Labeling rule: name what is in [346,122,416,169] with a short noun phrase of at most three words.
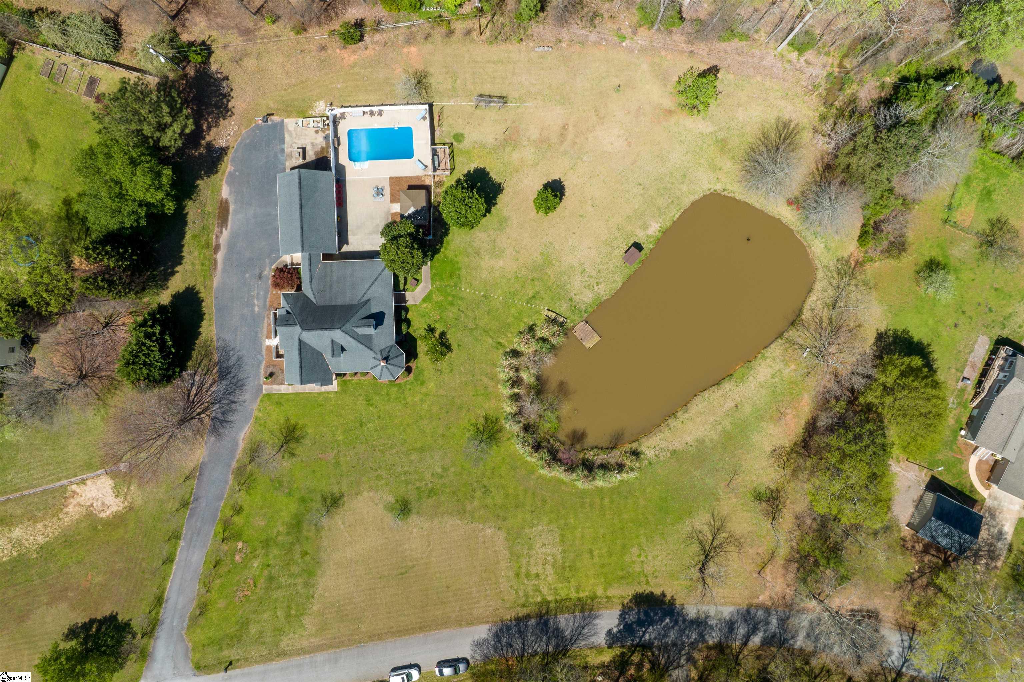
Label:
swimming pool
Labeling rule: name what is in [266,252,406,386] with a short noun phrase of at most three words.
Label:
house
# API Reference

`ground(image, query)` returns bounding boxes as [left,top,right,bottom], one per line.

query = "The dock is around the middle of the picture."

[573,321,601,349]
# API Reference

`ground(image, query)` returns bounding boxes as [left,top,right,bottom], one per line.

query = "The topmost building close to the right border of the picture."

[959,347,1024,501]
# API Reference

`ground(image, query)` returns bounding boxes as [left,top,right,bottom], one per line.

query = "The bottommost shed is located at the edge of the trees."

[905,488,984,556]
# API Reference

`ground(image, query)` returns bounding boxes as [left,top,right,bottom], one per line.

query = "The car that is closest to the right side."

[435,662,469,679]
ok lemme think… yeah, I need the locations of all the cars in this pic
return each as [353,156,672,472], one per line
[435,662,469,679]
[386,668,420,682]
